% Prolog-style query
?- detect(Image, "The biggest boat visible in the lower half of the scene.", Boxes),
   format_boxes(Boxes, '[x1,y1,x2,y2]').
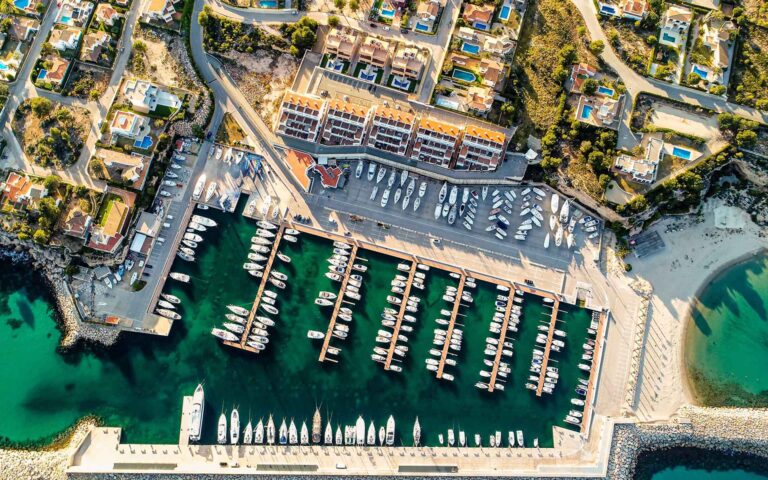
[188,375,204,442]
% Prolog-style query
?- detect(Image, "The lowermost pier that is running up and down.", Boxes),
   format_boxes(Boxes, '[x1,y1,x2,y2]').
[179,395,193,444]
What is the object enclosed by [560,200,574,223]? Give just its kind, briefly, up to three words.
boat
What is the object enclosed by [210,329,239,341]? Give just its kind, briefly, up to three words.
boat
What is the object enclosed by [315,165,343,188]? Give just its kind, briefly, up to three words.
building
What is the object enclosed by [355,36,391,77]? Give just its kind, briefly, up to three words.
house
